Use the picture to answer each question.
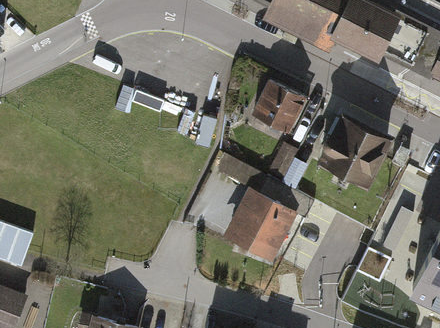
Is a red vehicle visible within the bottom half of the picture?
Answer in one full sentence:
No, there's no red vehicle to be seen within the bottom half of the picture.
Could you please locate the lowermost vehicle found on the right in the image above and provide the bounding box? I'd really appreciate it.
[298,225,322,243]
